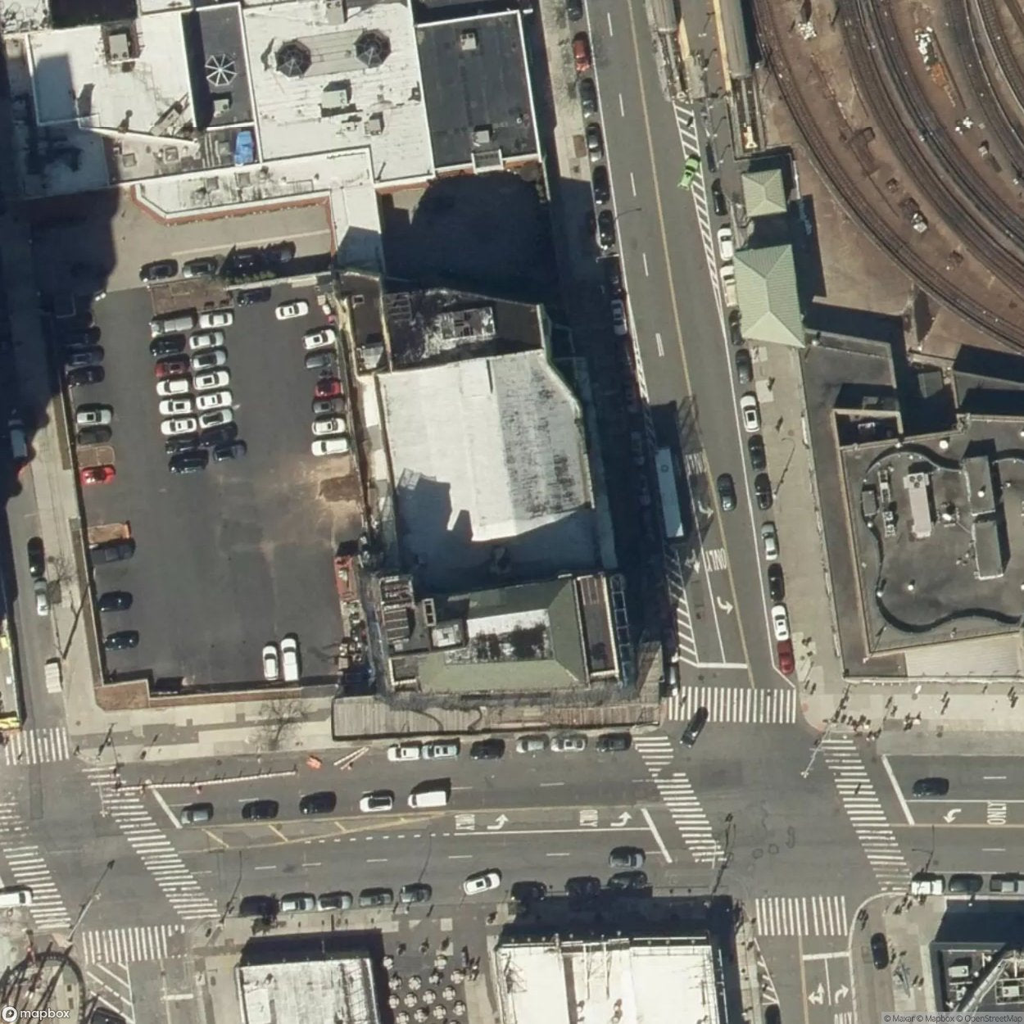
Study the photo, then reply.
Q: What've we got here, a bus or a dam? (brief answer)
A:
bus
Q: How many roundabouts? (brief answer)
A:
0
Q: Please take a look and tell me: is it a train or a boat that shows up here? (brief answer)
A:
train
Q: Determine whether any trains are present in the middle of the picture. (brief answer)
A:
No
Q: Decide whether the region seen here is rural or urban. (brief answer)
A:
urban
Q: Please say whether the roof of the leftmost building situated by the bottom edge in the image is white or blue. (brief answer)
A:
white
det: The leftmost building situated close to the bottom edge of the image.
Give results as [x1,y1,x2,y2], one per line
[237,955,380,1024]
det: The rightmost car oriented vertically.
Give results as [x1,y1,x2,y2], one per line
[870,933,888,970]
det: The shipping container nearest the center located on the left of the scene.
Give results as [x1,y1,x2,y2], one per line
[334,554,359,602]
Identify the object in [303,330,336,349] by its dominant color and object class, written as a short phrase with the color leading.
white car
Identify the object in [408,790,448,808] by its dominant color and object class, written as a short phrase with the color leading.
white vehicle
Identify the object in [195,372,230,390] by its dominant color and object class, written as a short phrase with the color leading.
white car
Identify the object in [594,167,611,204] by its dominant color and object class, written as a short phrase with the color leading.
black car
